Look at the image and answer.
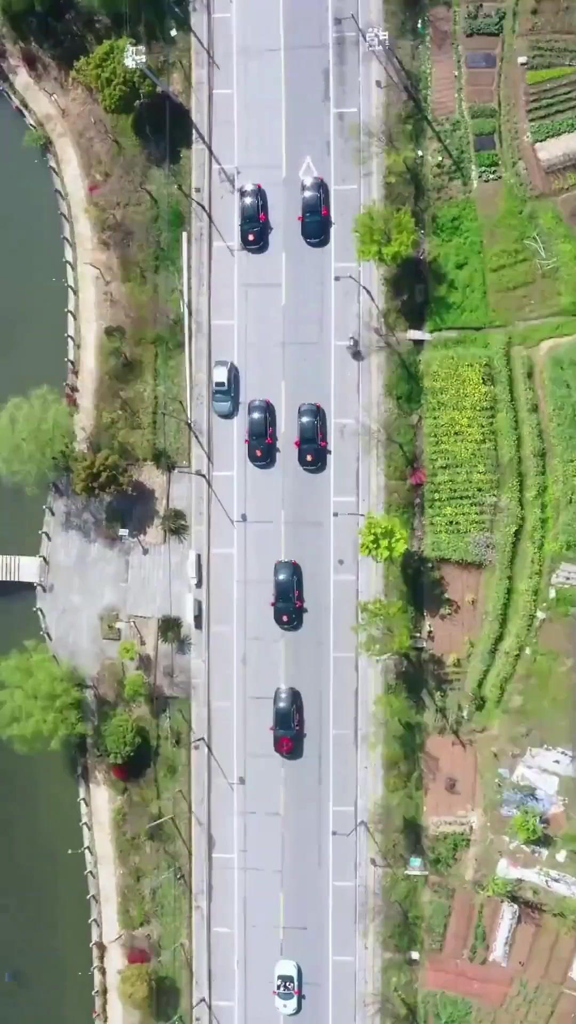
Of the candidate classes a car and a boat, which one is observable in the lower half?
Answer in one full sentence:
There is a car in the lower half.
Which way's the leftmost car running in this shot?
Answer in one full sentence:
The leftmost car runs up and down in the image.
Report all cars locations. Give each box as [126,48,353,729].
[236,182,265,249]
[210,361,238,418]
[271,958,300,1015]
[269,687,299,756]
[296,176,326,242]
[243,399,273,466]
[269,560,299,628]
[293,402,323,470]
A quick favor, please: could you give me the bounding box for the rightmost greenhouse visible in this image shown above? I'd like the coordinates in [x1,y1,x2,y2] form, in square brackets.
[533,131,576,173]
